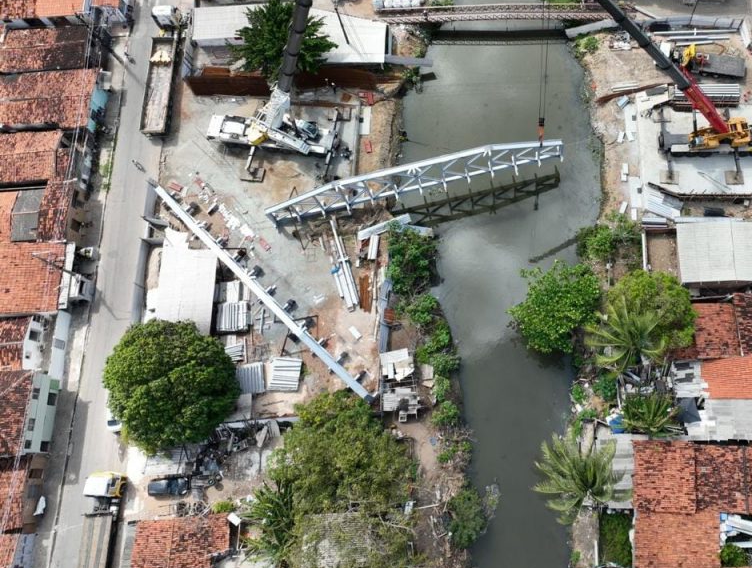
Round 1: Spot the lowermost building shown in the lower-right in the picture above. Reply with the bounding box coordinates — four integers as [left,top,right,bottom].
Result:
[635,513,721,568]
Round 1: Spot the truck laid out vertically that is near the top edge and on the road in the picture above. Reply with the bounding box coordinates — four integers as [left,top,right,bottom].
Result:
[135,3,176,133]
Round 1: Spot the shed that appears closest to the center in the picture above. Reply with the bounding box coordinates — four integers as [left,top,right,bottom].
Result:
[379,349,414,381]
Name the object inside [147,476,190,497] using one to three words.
car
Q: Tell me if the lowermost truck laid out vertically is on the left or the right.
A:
left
